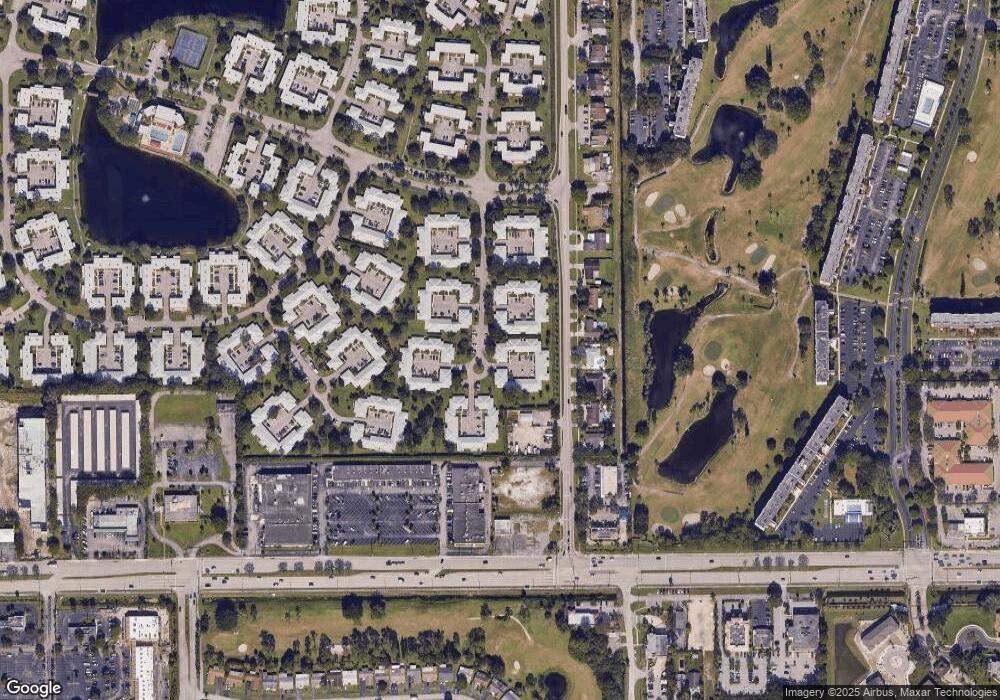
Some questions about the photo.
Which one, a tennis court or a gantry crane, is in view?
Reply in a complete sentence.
This aerial view contains a tennis court.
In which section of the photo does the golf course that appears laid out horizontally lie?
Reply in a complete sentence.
Look in the bottom portion of the view to spot the golf course that appears laid out horizontally.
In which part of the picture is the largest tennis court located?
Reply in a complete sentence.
The largest tennis court is located in the top left region of the scene.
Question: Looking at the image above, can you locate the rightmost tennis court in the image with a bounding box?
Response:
[170,26,207,69]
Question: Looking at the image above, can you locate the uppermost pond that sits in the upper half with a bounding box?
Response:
[716,0,782,79]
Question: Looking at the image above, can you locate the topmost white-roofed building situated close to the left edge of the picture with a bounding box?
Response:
[27,0,87,36]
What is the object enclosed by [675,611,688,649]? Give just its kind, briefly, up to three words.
building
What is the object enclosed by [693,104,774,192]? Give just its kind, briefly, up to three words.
pond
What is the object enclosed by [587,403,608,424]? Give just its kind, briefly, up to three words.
house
